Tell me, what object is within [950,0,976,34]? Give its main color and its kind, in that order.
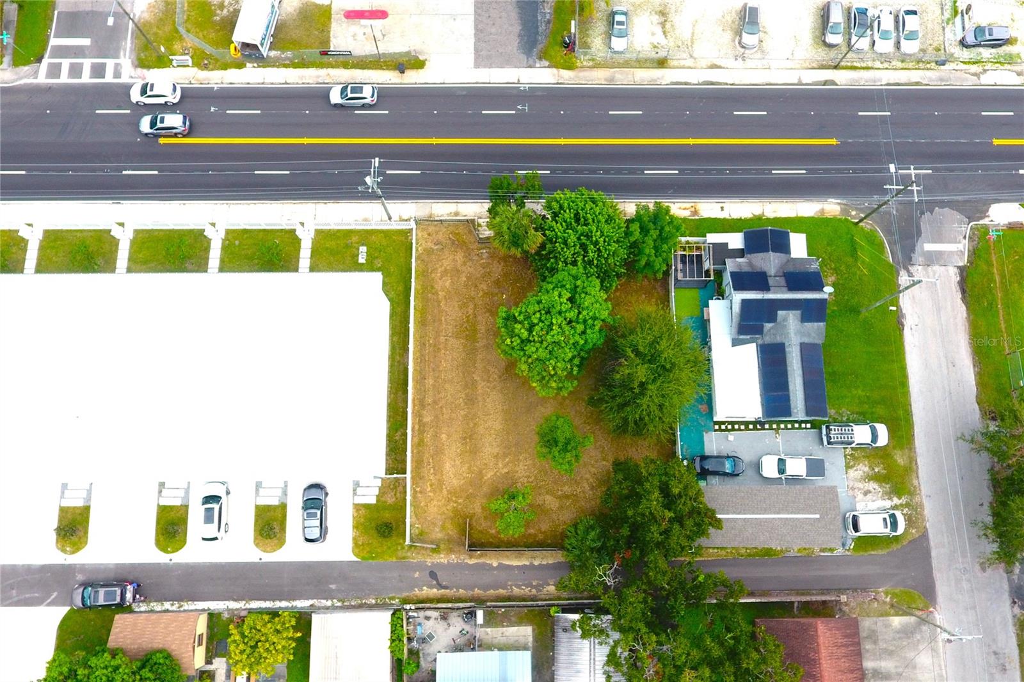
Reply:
white trailer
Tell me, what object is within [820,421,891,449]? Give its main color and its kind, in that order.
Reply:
white truck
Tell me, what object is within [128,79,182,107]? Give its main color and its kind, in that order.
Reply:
white car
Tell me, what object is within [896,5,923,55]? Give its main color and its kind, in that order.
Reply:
white car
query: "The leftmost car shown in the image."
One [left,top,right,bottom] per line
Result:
[70,581,133,612]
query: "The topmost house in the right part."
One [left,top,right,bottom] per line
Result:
[699,228,831,421]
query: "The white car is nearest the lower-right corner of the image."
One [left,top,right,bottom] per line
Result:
[845,510,907,539]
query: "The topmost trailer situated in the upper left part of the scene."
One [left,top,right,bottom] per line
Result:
[227,0,274,65]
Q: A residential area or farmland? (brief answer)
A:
residential area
